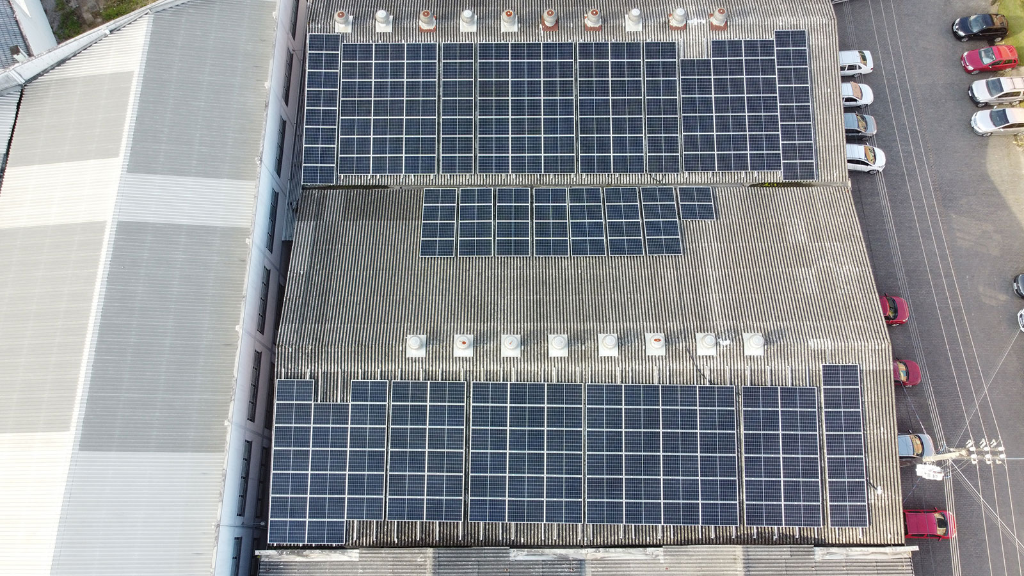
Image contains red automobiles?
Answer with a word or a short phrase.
Yes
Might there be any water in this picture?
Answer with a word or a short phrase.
No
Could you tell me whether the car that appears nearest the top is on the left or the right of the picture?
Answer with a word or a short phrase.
right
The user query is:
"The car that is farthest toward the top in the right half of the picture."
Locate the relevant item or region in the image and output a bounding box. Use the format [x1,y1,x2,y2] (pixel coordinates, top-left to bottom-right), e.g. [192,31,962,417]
[949,11,1013,42]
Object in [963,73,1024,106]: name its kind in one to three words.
car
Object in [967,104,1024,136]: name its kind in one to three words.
car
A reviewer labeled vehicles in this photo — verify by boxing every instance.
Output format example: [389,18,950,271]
[963,73,1024,106]
[967,104,1024,136]
[844,110,878,141]
[846,142,886,174]
[893,355,922,387]
[897,427,936,458]
[879,294,911,326]
[840,49,876,78]
[949,11,1013,42]
[902,507,958,544]
[842,78,874,109]
[957,41,1024,74]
